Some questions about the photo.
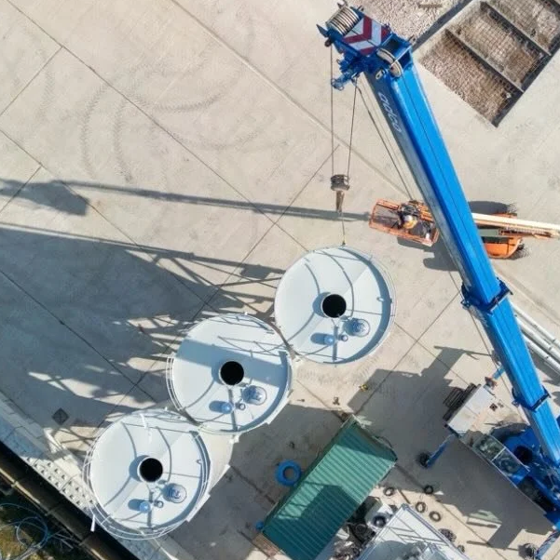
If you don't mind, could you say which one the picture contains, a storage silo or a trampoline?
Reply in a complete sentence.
Of the two, only a storage silo appears.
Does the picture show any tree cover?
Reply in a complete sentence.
No, tree cover can't be seen anywhere here.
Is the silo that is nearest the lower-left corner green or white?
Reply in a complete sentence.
In this view, the silo that is nearest the lower-left corner is white.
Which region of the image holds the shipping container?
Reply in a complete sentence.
Look in the bottom portion of the view to spot the shipping container.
